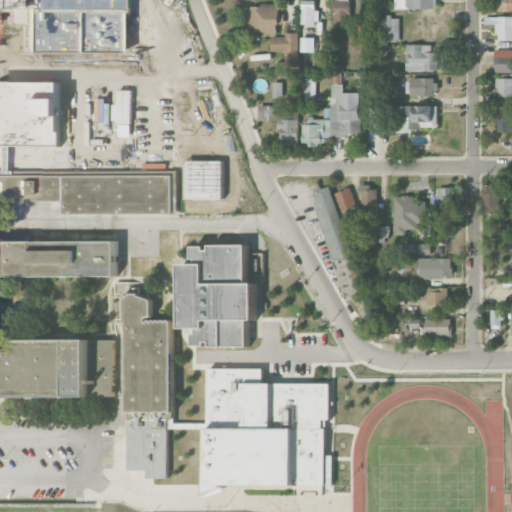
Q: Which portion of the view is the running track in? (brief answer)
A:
bottom right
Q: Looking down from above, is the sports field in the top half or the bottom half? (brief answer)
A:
bottom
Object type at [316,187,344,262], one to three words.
shed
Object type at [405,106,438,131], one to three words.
house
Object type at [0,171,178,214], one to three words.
building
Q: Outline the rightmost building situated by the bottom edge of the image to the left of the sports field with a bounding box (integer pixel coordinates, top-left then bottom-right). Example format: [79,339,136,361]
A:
[201,368,332,486]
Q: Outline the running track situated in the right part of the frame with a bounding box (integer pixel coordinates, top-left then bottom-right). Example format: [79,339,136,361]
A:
[353,386,504,512]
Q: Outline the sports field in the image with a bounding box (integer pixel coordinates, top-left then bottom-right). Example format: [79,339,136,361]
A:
[370,445,483,512]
